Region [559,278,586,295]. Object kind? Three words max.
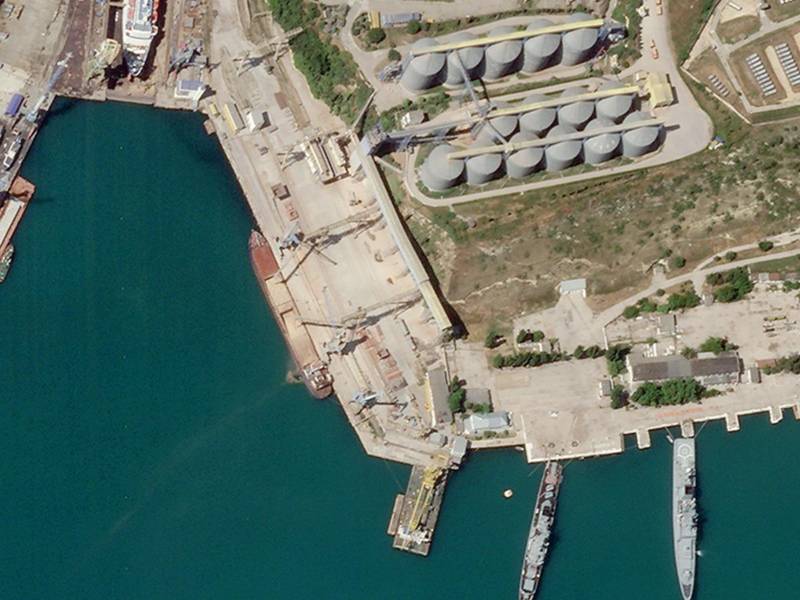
building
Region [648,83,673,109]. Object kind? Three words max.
building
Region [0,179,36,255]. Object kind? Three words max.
ship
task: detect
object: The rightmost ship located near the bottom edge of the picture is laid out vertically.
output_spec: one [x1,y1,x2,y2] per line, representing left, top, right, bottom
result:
[673,437,696,600]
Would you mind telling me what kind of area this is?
port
